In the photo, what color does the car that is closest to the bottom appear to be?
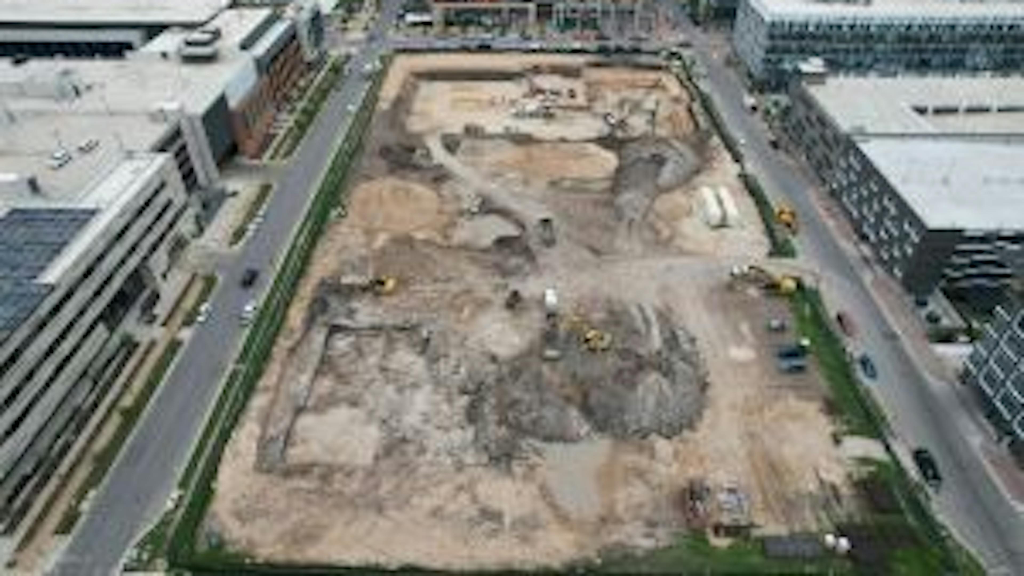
black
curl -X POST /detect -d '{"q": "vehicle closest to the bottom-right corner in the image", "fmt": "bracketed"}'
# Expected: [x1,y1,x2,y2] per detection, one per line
[917,447,947,481]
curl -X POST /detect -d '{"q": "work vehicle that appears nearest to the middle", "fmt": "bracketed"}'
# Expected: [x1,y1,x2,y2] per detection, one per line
[501,289,523,313]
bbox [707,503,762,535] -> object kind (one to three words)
shed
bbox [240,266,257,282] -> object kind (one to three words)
car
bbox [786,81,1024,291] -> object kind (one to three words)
building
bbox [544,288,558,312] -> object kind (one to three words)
vehicle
